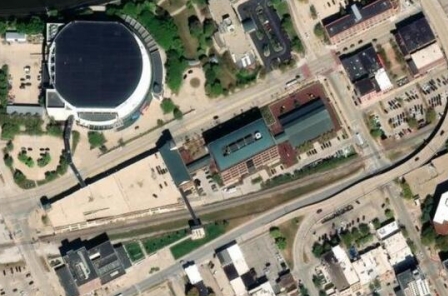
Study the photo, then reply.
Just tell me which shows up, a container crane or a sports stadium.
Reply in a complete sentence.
I can see a sports stadium in this picture.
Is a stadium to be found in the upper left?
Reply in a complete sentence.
Yes, the scene does show a stadium in the upper left.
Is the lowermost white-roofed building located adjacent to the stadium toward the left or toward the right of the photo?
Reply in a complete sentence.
You can find the lowermost white-roofed building located adjacent to the stadium on the left side of the picture.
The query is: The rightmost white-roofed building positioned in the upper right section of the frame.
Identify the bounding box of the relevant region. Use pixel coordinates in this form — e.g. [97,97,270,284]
[412,43,445,75]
